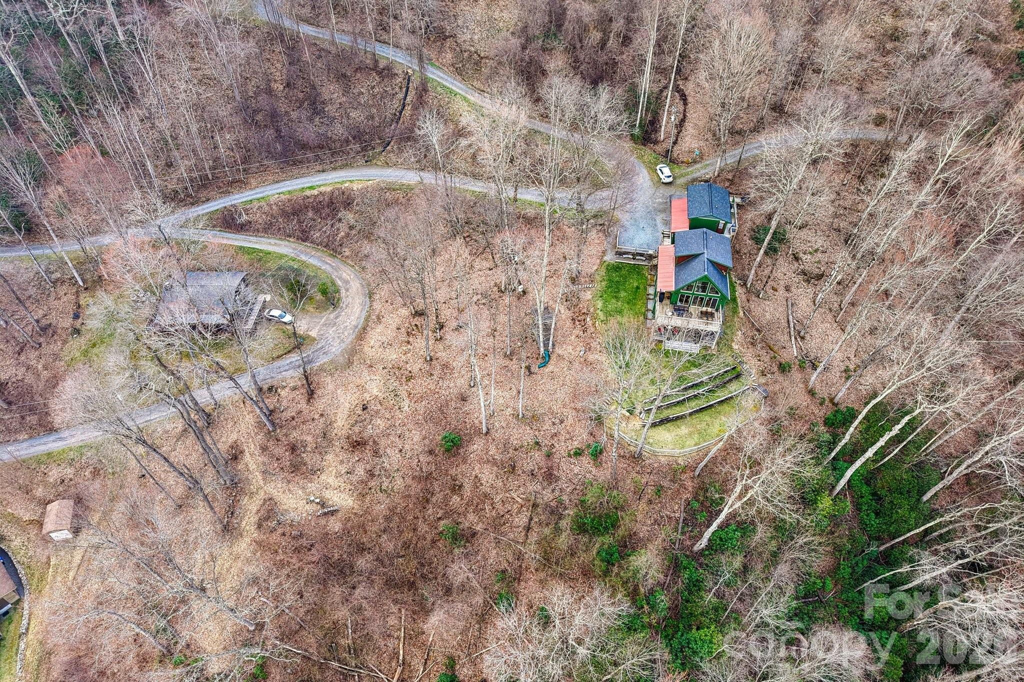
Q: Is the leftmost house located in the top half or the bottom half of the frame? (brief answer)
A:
bottom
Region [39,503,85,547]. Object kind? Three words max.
shed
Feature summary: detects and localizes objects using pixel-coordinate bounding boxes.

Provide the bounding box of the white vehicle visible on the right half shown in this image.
[658,166,674,181]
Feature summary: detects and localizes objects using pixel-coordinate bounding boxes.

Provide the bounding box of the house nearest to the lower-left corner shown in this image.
[0,561,33,630]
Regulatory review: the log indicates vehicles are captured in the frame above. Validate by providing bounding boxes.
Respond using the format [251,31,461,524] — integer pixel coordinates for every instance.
[263,310,293,326]
[658,166,674,181]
